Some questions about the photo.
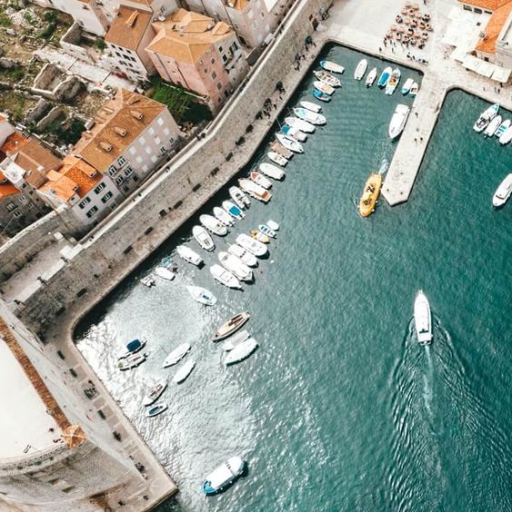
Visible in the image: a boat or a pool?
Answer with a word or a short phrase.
boat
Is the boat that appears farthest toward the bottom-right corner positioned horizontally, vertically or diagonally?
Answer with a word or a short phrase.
vertically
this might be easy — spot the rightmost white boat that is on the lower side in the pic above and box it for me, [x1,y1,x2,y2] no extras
[414,288,434,350]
